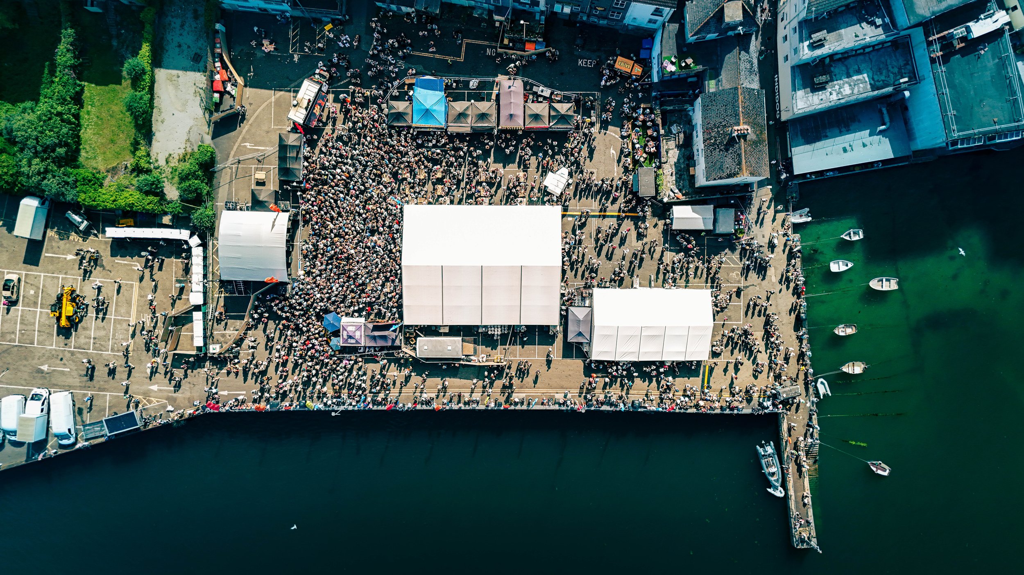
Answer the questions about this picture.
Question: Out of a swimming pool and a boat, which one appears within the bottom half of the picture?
boat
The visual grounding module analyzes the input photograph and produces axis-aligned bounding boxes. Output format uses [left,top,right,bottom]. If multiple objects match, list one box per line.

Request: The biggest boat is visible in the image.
[756,439,782,487]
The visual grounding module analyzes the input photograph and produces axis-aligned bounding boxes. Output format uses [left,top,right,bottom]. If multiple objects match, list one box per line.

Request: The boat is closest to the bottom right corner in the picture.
[869,462,893,478]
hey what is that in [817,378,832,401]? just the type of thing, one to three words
boat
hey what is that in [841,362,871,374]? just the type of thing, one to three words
boat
